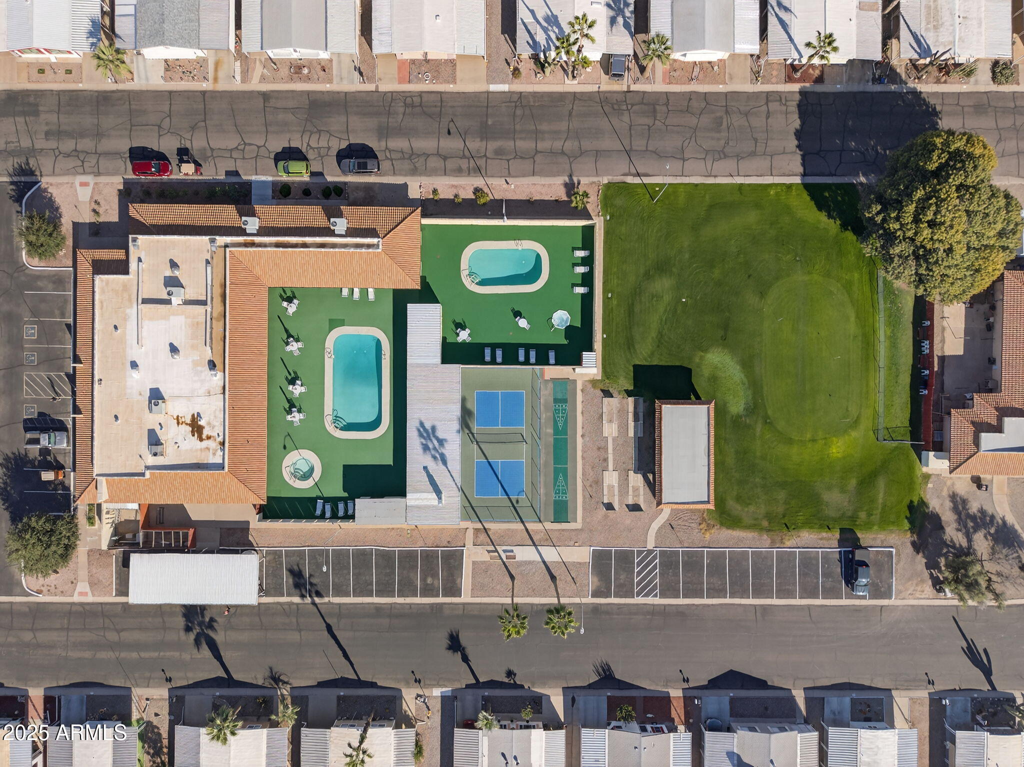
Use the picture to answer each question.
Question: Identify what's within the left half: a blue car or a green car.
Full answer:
The one visible within the left half is a green car.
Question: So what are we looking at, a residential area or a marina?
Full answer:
It's a residential area.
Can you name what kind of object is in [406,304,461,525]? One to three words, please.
building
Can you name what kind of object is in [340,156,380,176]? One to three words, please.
car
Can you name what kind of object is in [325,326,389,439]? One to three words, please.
swimming pool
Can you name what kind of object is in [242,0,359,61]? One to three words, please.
house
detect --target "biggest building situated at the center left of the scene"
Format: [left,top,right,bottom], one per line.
[72,203,421,506]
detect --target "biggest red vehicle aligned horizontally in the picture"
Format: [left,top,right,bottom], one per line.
[129,158,170,177]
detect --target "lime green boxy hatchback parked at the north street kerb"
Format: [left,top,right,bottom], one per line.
[276,158,309,176]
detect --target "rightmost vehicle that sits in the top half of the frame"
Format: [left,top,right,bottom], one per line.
[610,52,627,79]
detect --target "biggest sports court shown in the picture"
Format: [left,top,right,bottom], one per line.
[461,368,540,523]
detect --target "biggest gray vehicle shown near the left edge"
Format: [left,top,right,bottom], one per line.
[20,430,67,450]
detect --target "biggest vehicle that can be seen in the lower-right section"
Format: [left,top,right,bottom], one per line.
[853,549,877,597]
